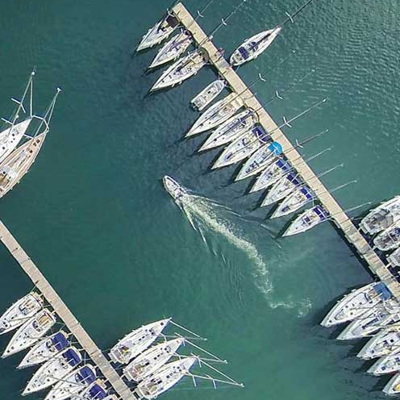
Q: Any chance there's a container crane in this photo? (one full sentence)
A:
No, I can't see a single container crane in this photo.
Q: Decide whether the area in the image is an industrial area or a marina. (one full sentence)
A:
It's a marina.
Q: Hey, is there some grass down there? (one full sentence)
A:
No, the scene doesn't show any grass.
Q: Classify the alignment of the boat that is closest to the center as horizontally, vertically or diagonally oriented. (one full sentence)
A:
Seen from above, the boat that is closest to the center lies diagonally.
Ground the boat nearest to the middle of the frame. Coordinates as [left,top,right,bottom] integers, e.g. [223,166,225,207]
[163,175,183,203]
